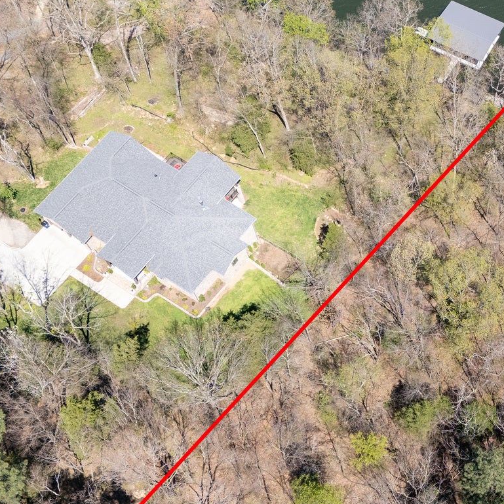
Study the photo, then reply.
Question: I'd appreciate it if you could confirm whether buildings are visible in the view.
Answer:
Yes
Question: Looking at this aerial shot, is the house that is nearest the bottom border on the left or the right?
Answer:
left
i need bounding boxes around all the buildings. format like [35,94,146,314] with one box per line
[33,132,258,295]
[427,1,504,87]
